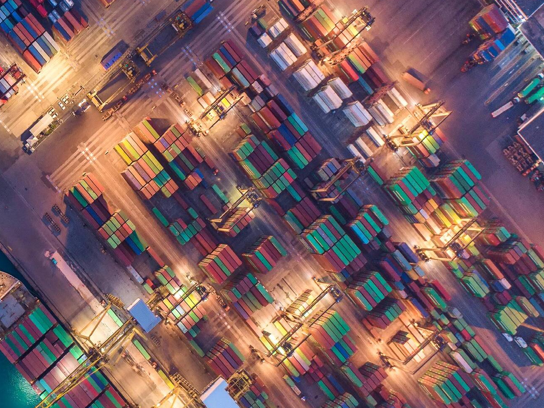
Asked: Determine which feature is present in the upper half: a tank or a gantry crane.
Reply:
gantry crane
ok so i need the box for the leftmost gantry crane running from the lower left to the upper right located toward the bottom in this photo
[29,287,172,408]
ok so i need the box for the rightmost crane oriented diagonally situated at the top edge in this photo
[307,9,375,63]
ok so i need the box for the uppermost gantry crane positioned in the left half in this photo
[129,17,188,69]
